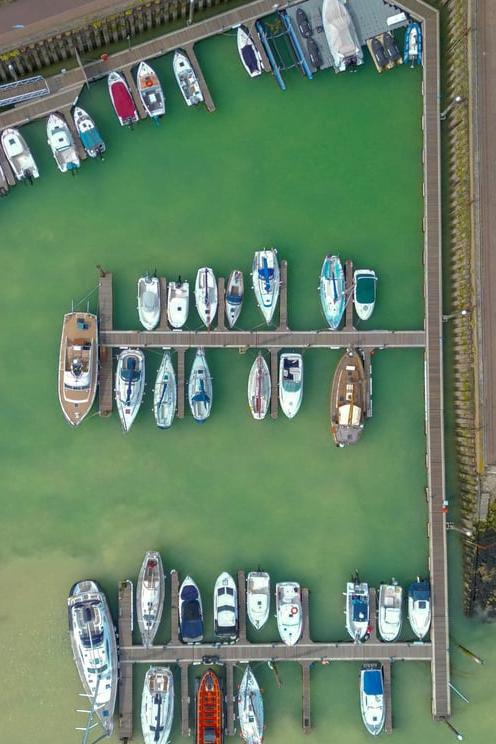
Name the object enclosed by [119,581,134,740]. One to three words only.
pier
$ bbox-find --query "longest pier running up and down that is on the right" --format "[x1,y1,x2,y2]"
[424,10,450,717]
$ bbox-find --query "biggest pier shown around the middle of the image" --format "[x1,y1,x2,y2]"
[113,330,427,348]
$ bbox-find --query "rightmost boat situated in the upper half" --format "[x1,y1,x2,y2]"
[404,21,421,71]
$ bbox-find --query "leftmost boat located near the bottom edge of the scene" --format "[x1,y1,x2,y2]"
[64,577,118,744]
